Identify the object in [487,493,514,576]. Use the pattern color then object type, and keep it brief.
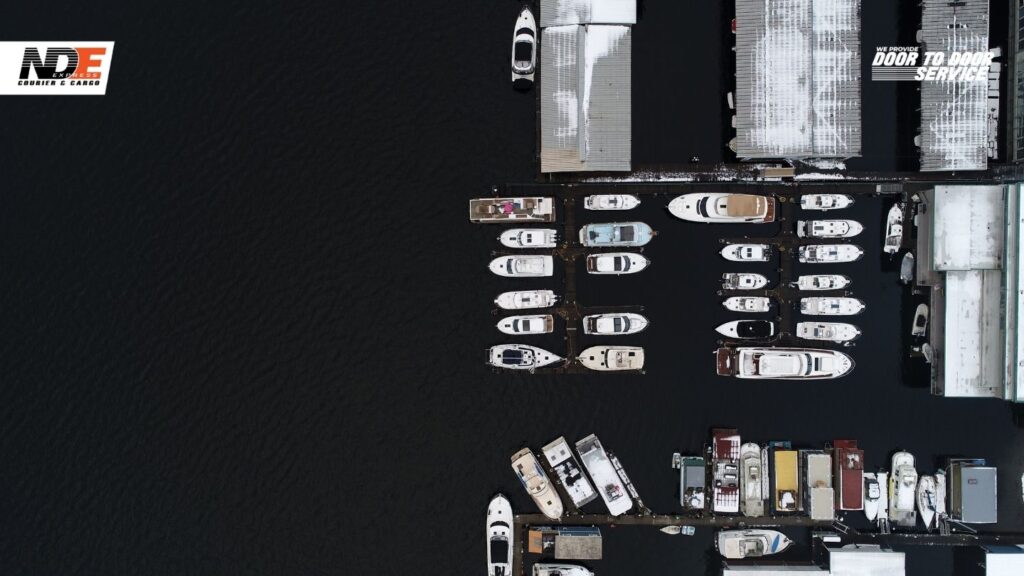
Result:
white boat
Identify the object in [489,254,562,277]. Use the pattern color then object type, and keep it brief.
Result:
white boat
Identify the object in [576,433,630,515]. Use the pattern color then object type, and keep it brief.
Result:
white ship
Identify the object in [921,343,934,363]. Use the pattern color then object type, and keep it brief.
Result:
gray boat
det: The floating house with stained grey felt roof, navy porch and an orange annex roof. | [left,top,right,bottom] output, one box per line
[529,527,602,560]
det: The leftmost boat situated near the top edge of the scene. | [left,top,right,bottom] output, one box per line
[512,5,537,95]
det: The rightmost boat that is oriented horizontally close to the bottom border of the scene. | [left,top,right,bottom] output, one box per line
[716,528,793,558]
